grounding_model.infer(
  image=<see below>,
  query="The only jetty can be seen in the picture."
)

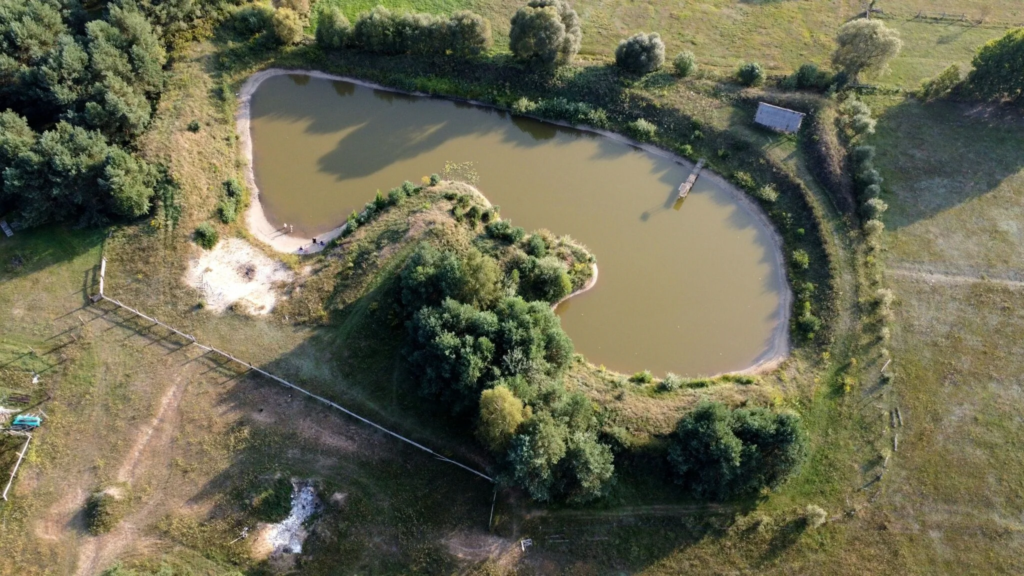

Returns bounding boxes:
[678,159,705,202]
